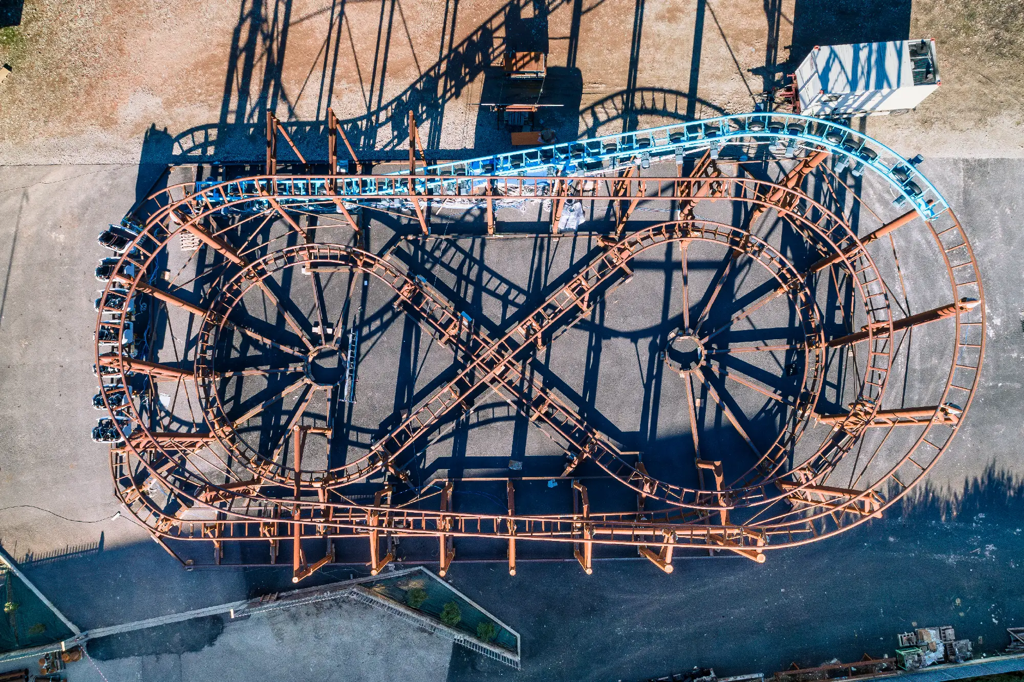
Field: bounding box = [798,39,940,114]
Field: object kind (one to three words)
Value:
shipping container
